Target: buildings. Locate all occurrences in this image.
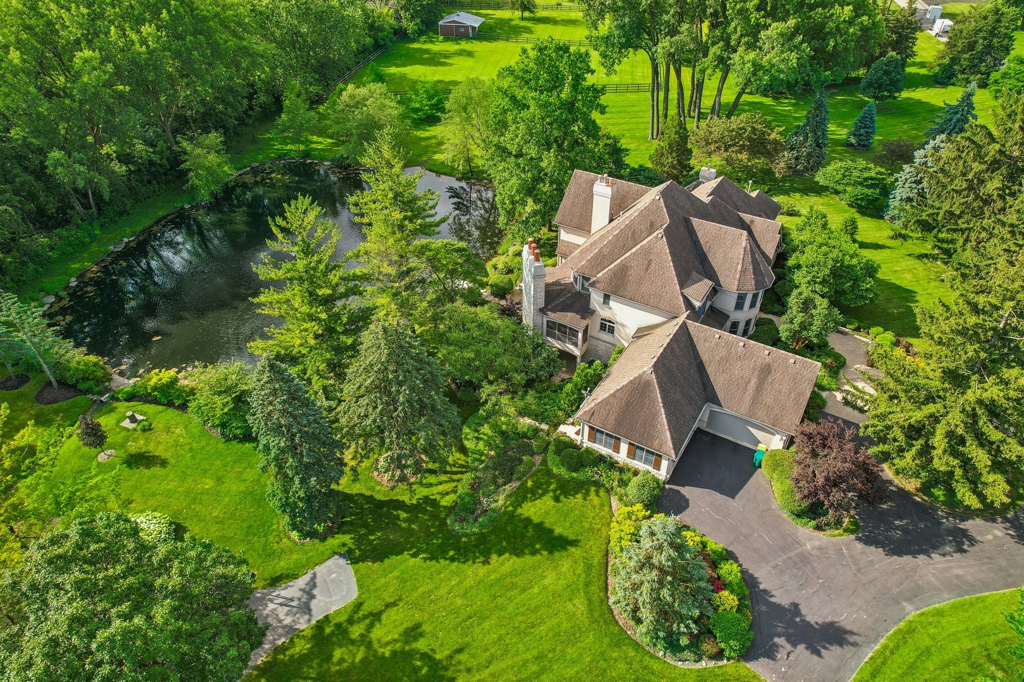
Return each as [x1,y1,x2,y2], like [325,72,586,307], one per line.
[522,161,822,479]
[429,10,486,38]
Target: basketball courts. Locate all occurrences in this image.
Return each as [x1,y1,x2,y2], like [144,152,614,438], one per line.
[192,552,357,682]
